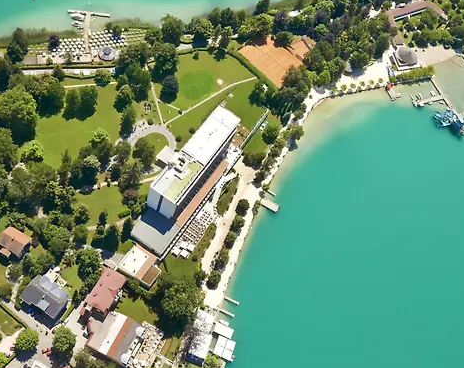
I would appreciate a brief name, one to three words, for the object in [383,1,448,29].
building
